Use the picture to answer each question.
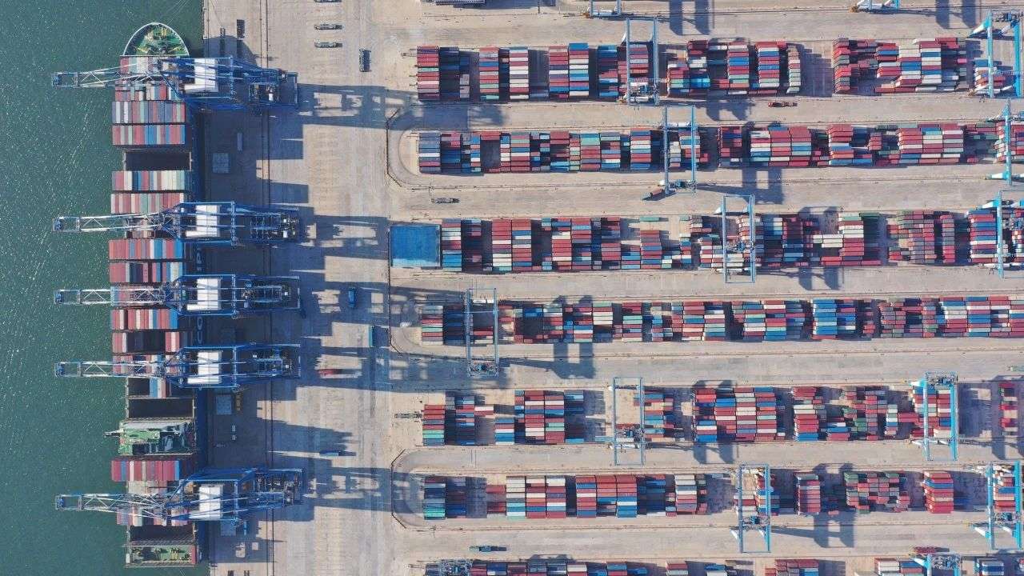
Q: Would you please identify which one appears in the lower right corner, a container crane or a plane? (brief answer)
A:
container crane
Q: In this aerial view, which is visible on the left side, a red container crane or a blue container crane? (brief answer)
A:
blue container crane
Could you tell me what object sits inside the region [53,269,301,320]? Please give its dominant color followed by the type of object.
blue container crane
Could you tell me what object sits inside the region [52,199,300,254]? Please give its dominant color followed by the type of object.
blue container crane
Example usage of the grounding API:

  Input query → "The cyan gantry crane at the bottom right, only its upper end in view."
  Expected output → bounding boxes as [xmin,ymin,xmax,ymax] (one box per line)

[917,550,961,576]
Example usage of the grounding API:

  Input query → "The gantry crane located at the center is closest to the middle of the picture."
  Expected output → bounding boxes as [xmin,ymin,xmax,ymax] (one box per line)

[465,289,502,376]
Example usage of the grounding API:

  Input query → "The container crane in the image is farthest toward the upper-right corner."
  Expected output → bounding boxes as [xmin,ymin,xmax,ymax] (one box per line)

[966,7,1022,100]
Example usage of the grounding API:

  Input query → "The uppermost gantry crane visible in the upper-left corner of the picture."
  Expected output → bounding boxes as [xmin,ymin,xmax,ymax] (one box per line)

[51,54,298,123]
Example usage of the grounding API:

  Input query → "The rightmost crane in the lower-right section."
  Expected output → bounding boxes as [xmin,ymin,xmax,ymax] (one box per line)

[966,460,1022,549]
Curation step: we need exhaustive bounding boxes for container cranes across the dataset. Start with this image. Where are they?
[966,460,1022,549]
[584,0,622,16]
[975,192,1024,279]
[438,555,473,576]
[618,17,659,106]
[905,370,958,461]
[54,335,302,390]
[465,289,502,376]
[53,269,301,320]
[55,455,304,523]
[726,463,771,552]
[917,550,961,576]
[966,7,1022,100]
[52,199,300,254]
[606,377,646,465]
[984,99,1024,187]
[51,54,298,123]
[711,195,755,283]
[655,105,697,193]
